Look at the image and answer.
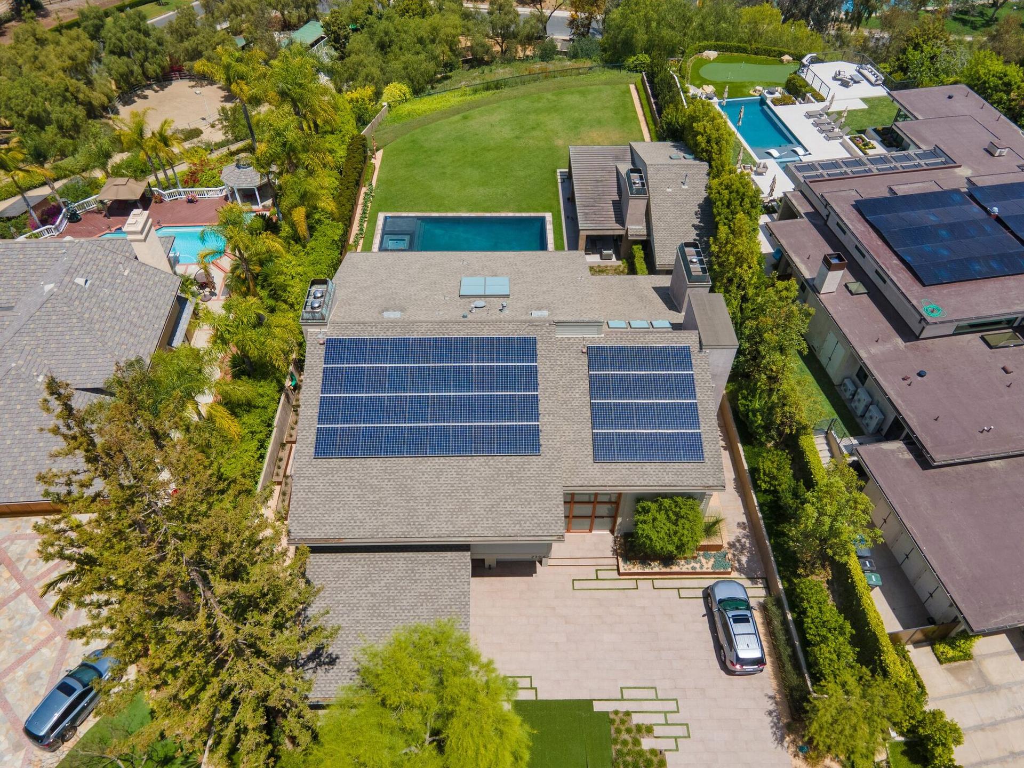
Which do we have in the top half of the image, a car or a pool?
pool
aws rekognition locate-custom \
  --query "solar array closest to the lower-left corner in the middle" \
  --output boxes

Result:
[314,335,540,459]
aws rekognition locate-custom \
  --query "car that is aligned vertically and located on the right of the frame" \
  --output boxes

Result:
[710,578,769,680]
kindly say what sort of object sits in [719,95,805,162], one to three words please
swimming pool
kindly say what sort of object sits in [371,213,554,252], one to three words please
swimming pool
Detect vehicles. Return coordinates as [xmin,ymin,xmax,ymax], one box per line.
[710,578,769,680]
[18,644,129,758]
